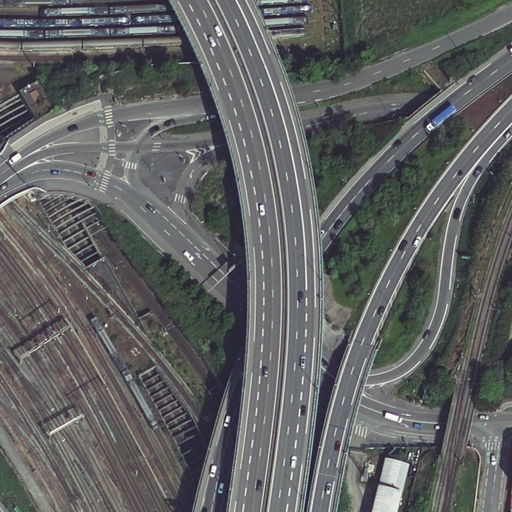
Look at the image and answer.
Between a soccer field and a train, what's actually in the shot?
train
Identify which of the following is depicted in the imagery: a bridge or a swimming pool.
bridge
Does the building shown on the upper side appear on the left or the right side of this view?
left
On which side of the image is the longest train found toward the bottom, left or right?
left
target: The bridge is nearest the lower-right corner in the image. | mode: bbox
[437,366,480,474]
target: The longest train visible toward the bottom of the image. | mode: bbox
[90,316,160,427]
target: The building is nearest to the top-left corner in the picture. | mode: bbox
[20,81,44,118]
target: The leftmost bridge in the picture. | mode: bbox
[170,0,322,512]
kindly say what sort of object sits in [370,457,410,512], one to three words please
building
